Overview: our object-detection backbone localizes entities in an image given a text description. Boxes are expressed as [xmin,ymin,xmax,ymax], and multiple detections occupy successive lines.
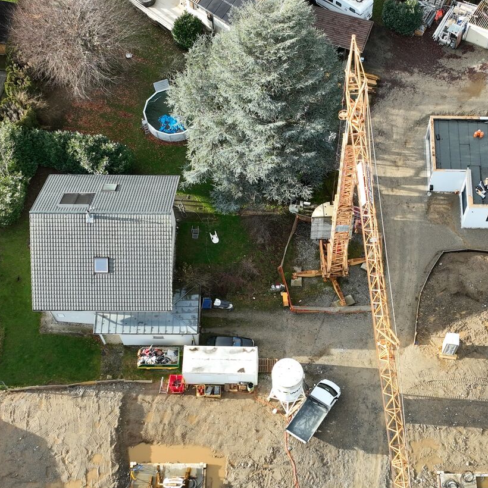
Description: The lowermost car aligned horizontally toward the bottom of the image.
[206,325,256,346]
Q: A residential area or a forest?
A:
residential area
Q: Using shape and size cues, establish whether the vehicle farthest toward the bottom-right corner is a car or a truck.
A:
truck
